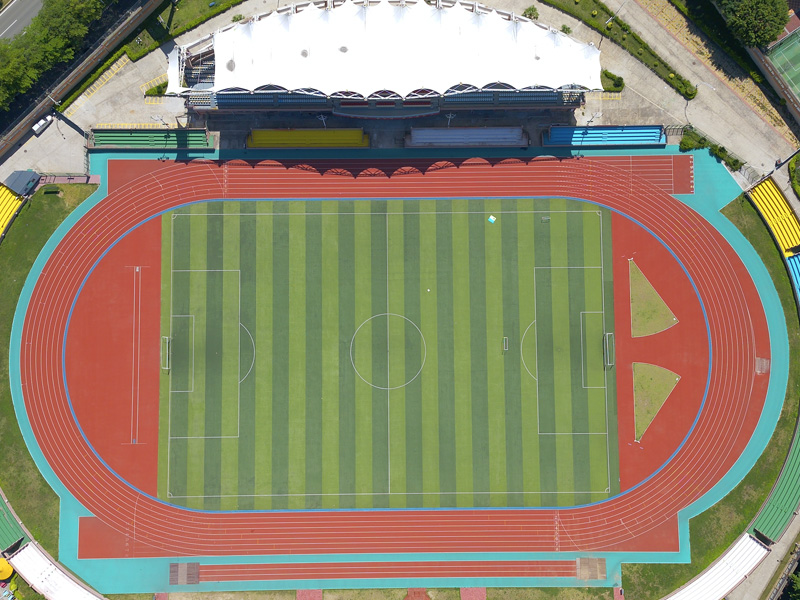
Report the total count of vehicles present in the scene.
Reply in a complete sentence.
Altogether the scene contains 1 vehicle.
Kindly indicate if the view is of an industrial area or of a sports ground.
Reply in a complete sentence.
The area seen from above is a sports ground.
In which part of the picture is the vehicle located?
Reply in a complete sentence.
Look in the top left portion of the view to spot the vehicle.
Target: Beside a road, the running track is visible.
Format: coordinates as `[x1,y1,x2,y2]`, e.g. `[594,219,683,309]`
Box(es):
[9,146,789,593]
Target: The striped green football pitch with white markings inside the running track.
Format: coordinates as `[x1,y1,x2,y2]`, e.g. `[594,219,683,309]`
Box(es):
[156,198,620,510]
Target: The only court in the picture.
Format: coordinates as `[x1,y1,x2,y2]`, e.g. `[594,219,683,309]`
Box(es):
[762,28,800,102]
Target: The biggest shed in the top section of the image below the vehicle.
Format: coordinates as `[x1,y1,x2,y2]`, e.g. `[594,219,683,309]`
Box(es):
[4,170,48,198]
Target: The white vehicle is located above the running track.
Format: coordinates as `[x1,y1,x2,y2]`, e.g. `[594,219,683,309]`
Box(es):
[30,113,52,134]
